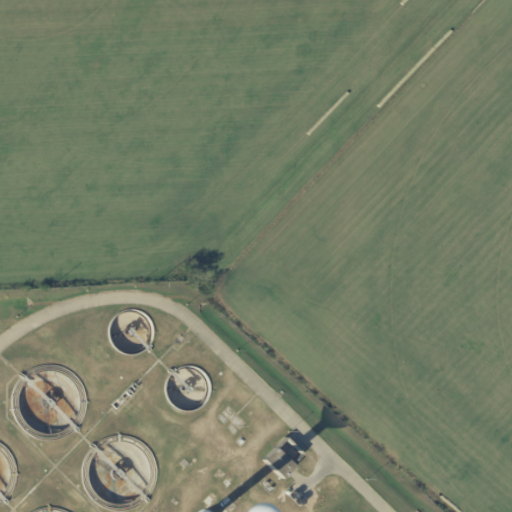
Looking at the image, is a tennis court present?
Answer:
No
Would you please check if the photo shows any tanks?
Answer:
Yes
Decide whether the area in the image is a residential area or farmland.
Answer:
farmland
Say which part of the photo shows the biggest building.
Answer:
bottom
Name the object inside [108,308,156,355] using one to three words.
storage tank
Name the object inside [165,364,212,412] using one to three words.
storage tank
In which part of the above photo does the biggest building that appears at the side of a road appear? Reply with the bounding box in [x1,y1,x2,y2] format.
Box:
[264,437,307,478]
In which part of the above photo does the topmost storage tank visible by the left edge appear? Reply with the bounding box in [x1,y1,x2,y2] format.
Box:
[11,364,88,440]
